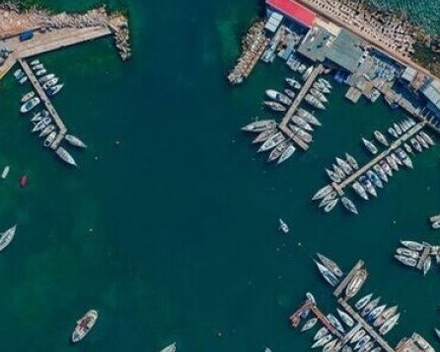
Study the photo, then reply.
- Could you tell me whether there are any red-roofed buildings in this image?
Yes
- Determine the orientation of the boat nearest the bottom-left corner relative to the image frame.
on a diagonal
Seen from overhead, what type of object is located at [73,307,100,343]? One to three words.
boat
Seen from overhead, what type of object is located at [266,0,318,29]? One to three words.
building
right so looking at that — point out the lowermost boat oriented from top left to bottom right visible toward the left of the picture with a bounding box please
[55,148,76,166]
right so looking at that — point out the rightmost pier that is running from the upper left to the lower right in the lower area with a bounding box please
[338,296,393,352]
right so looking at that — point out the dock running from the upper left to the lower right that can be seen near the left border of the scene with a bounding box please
[17,59,65,132]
